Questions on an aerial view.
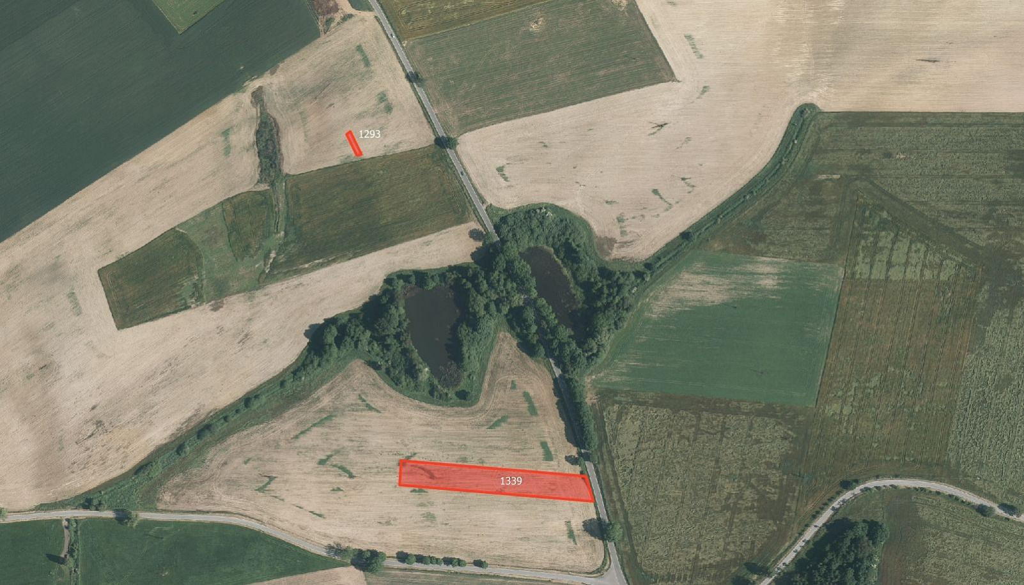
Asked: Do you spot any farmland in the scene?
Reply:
Yes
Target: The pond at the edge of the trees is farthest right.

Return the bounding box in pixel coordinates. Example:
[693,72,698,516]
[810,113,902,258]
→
[522,244,582,342]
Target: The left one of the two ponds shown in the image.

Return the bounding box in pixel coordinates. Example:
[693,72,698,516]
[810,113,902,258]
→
[404,286,471,390]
